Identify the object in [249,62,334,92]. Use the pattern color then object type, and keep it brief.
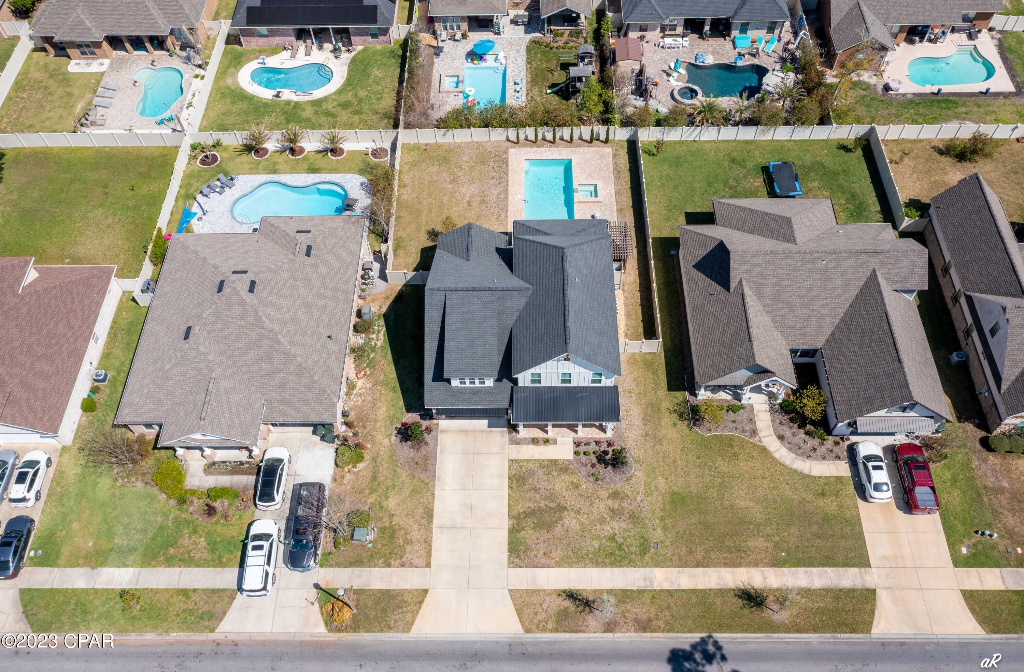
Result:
blue swimming pool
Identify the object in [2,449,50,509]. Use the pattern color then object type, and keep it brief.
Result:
white car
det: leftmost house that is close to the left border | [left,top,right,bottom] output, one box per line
[0,256,118,446]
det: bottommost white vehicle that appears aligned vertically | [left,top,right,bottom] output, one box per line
[239,519,280,594]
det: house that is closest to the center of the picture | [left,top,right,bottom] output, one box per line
[424,218,621,439]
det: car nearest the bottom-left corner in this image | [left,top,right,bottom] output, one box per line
[0,513,32,581]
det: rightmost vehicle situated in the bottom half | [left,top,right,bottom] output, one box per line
[894,443,944,517]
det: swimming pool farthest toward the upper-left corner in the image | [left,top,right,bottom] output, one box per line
[132,64,186,119]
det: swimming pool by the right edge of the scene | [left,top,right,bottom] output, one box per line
[906,43,997,87]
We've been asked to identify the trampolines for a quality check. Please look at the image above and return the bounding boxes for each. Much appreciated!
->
[768,160,801,198]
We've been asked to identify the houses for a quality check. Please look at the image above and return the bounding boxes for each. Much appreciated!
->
[230,0,397,48]
[427,0,541,36]
[675,198,953,433]
[31,0,216,62]
[620,0,790,39]
[921,172,1024,434]
[0,256,118,446]
[119,214,367,460]
[424,218,621,439]
[810,0,1003,72]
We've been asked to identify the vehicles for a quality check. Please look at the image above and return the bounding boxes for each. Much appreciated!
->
[283,488,323,571]
[2,449,50,509]
[856,439,898,504]
[252,444,290,509]
[239,519,280,594]
[0,513,32,581]
[0,449,18,502]
[894,443,944,517]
